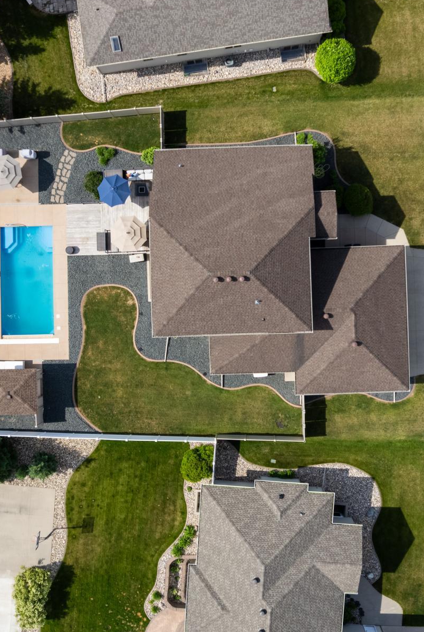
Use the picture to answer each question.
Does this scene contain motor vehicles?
No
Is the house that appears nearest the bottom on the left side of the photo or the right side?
right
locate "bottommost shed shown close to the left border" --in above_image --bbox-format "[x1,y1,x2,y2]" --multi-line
[0,364,48,416]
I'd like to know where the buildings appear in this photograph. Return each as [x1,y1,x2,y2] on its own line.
[0,364,48,416]
[147,144,410,395]
[77,0,332,75]
[184,472,382,632]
